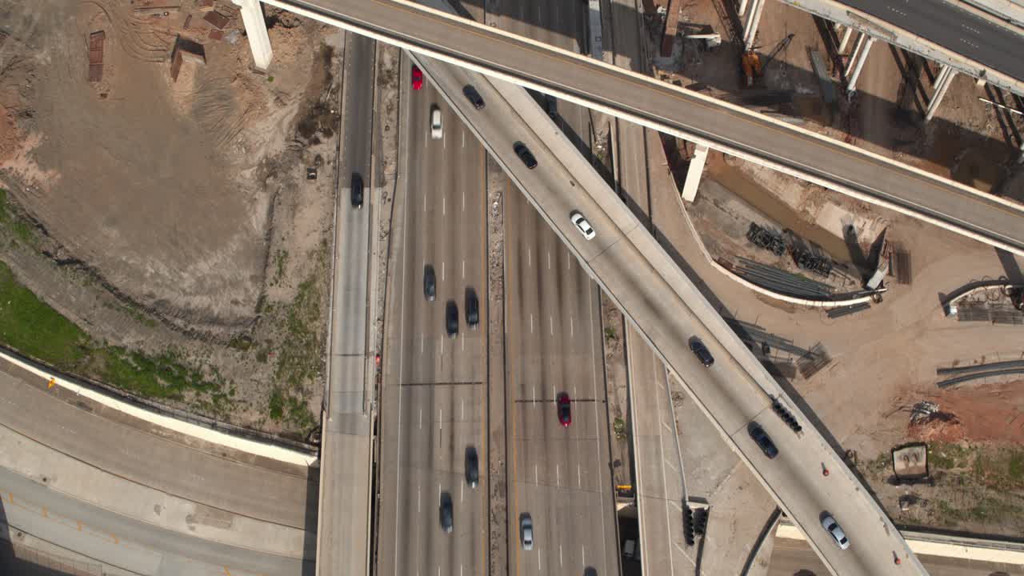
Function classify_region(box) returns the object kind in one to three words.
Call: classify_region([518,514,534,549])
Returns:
car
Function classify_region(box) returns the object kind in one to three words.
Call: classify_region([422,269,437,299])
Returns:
car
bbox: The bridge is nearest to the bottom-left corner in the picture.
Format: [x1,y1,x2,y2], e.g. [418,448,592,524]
[314,415,376,576]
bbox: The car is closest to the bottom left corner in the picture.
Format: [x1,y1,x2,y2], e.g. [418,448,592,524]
[438,494,454,529]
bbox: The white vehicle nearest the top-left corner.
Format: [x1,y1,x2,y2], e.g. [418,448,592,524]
[429,109,443,135]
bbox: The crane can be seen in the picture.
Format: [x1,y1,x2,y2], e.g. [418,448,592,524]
[740,38,788,93]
